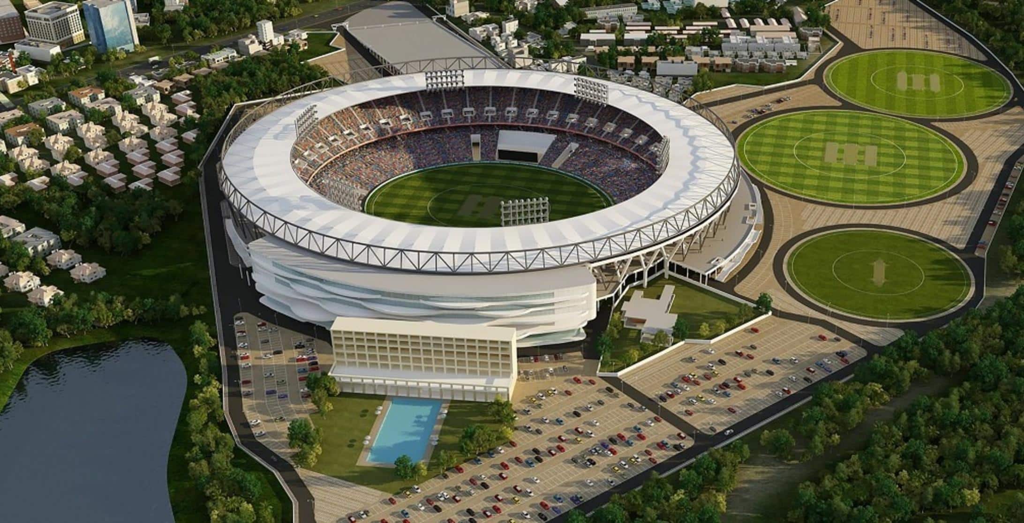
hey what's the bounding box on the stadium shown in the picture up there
[218,54,746,297]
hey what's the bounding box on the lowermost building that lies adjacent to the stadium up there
[325,316,516,399]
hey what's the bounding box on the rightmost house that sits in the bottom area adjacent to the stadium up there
[621,285,678,346]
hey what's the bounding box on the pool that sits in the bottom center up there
[356,396,452,467]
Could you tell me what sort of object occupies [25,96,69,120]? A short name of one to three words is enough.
building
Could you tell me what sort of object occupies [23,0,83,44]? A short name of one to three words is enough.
building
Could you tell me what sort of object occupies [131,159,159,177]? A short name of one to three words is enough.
house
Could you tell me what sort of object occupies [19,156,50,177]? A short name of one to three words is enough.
house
